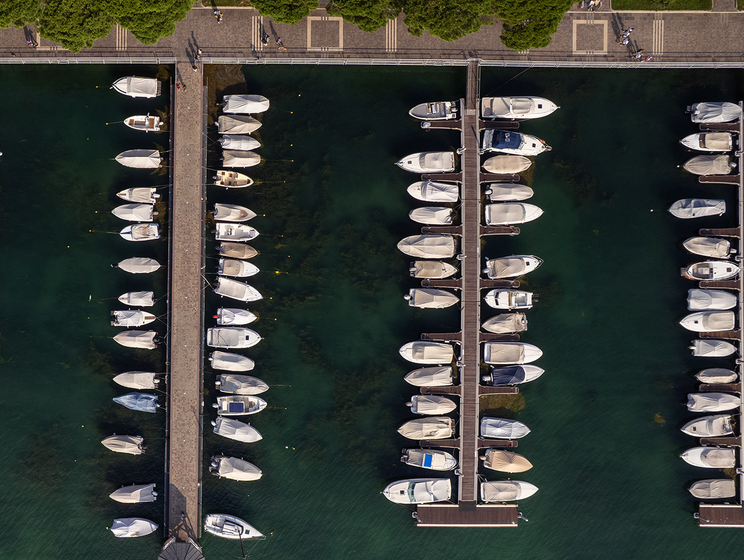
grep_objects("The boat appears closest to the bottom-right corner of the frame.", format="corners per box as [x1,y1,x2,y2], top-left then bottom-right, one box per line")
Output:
[684,476,740,501]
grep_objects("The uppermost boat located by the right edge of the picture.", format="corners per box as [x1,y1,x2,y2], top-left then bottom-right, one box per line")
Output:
[680,98,743,125]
